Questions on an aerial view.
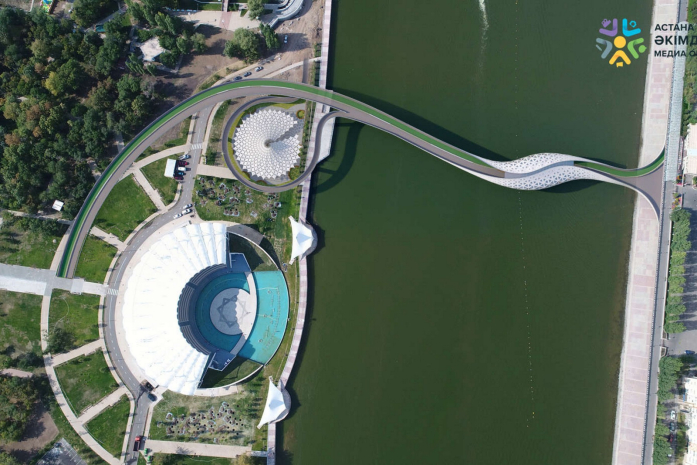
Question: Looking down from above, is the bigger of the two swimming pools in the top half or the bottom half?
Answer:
bottom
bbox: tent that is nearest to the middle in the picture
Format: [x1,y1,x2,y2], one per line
[290,216,316,264]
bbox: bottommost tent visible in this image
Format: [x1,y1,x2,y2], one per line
[257,375,289,428]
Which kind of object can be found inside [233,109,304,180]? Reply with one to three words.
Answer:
building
